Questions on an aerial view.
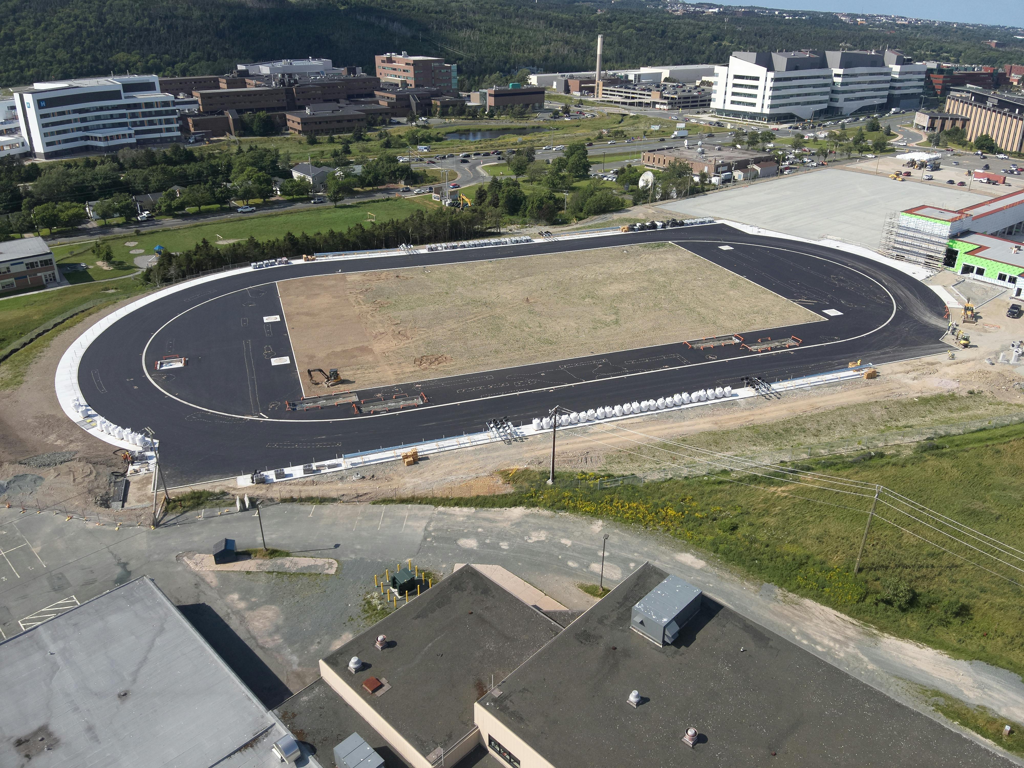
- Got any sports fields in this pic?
Yes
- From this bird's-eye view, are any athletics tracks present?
Yes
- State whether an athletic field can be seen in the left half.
Yes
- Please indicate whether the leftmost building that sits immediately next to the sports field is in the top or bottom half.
top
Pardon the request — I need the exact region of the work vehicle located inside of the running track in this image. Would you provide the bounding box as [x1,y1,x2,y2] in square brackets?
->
[303,364,344,387]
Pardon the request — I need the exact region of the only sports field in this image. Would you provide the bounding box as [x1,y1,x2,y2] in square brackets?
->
[51,187,485,281]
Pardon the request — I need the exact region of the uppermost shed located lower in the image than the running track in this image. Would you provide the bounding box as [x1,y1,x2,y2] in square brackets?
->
[212,530,237,564]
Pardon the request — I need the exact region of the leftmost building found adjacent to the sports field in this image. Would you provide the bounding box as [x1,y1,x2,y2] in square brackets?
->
[0,235,56,295]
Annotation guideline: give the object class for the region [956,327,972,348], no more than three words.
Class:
work vehicle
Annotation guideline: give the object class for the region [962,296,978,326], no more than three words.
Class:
work vehicle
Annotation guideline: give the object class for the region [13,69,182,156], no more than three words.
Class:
building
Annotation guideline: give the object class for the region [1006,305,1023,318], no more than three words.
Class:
vehicle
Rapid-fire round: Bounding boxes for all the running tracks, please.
[75,223,957,489]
